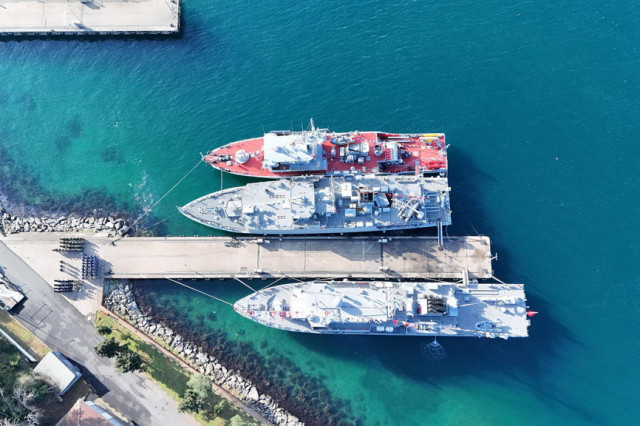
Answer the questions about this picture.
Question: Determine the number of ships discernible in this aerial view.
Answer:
3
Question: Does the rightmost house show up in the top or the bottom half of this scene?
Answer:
bottom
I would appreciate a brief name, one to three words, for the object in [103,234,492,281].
pier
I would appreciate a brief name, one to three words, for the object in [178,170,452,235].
ship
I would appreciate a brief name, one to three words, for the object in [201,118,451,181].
ship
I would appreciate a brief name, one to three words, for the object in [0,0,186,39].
pier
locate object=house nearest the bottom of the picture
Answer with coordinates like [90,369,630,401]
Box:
[61,397,128,426]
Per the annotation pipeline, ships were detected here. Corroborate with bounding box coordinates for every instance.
[178,170,452,235]
[231,277,536,337]
[201,118,451,181]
